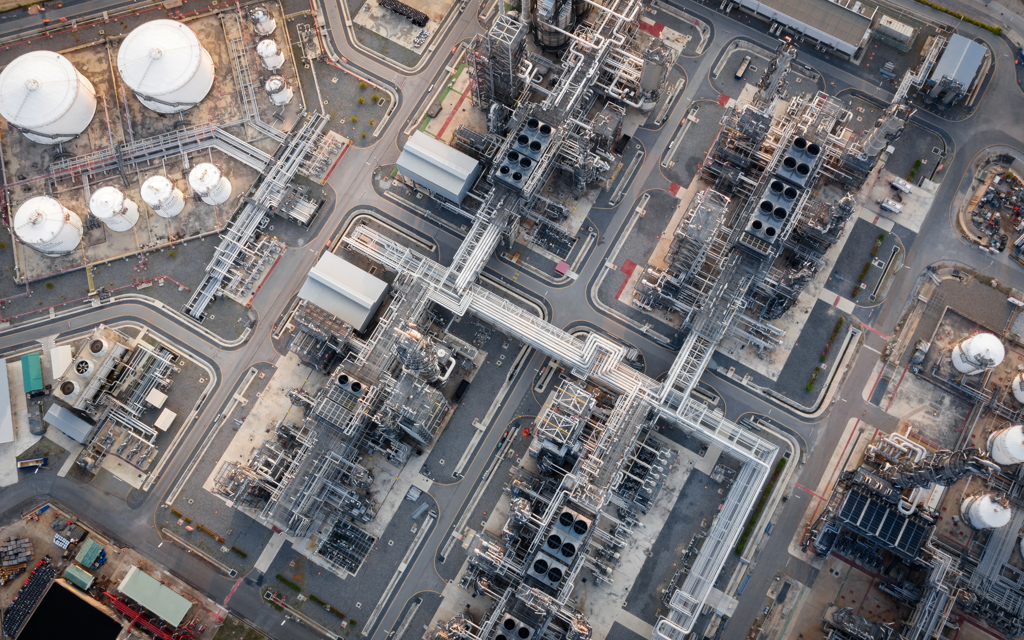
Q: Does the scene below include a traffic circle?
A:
No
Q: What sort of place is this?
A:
industrial area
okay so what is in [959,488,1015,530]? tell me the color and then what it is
white storage tank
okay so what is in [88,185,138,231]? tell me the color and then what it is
white storage tank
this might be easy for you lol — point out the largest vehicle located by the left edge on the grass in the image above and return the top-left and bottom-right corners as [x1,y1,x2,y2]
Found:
[18,456,48,469]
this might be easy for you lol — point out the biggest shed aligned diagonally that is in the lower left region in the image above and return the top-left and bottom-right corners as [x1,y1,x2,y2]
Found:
[118,565,199,627]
